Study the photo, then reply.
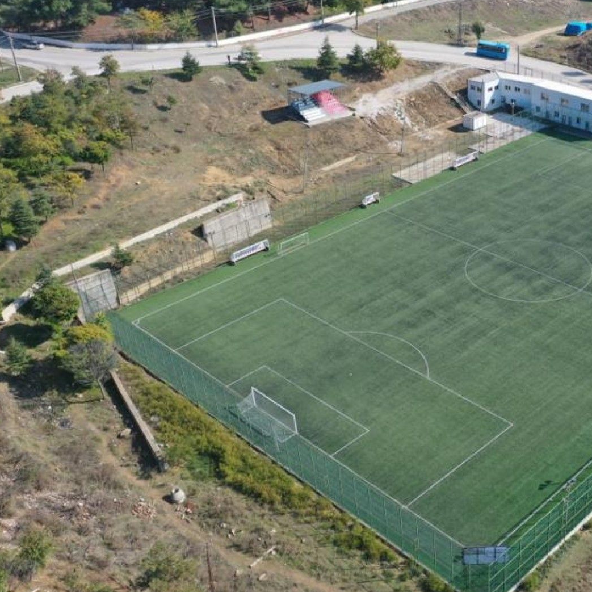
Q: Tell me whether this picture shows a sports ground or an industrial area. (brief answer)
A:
sports ground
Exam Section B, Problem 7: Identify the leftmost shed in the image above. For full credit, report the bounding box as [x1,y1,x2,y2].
[463,110,486,129]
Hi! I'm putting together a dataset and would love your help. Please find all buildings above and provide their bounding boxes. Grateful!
[467,66,592,134]
[463,110,486,129]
